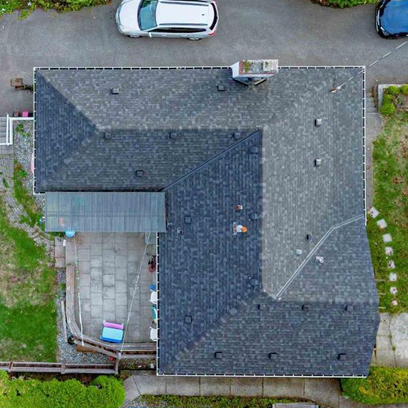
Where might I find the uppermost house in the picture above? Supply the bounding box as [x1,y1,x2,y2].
[31,65,382,378]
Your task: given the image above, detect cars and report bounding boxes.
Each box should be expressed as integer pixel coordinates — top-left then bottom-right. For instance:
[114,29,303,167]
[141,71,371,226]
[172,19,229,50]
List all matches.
[114,0,221,42]
[371,0,408,41]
